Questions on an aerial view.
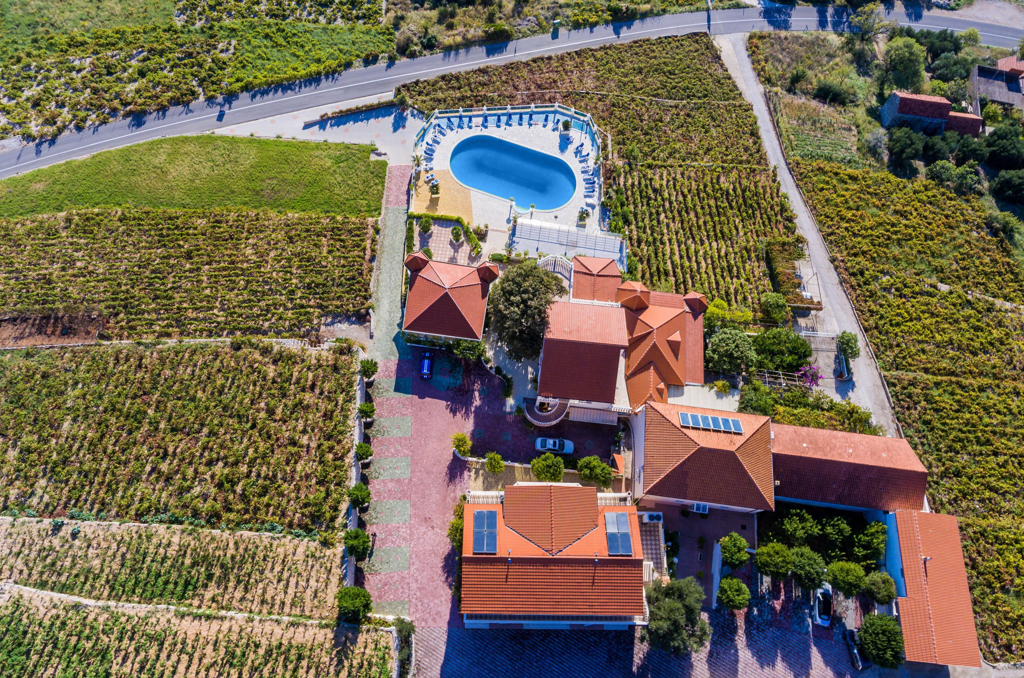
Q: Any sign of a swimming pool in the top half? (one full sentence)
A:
Yes, you'll find a swimming pool in the top half.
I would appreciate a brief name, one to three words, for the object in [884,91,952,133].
house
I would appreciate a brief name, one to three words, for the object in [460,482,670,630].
house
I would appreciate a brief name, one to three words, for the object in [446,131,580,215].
swimming pool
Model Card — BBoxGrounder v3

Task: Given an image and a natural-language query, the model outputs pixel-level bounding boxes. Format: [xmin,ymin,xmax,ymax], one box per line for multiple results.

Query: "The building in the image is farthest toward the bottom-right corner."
[884,510,982,667]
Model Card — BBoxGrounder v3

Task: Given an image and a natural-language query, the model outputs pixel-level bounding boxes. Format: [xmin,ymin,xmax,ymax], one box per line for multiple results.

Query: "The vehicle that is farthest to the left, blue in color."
[417,352,435,382]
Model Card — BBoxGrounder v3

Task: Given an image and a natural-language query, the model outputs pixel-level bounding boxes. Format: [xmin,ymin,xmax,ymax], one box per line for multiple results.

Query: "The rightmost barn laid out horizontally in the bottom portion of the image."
[771,423,928,510]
